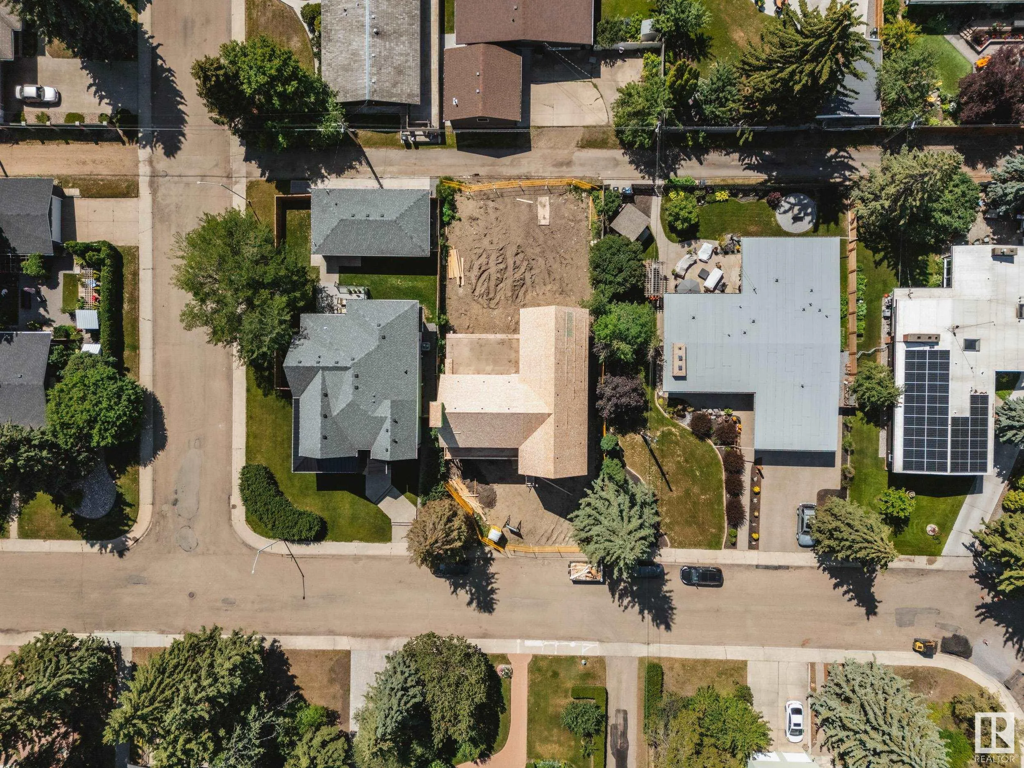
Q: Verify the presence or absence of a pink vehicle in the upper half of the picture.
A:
No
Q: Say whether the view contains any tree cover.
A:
Yes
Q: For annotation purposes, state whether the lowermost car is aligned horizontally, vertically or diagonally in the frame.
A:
vertically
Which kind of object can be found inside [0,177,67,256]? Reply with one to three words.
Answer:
building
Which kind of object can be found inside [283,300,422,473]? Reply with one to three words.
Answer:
house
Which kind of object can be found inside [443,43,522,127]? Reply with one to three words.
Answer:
building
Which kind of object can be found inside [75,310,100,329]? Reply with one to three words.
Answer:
shed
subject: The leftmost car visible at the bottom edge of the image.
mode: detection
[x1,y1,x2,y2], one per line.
[784,699,807,744]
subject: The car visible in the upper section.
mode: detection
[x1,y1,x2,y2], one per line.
[14,83,60,105]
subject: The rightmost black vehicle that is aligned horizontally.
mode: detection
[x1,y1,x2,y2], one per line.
[678,565,725,588]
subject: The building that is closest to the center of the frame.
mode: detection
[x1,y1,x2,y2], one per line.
[430,306,589,479]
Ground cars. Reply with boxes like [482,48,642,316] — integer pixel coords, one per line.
[678,565,725,588]
[784,699,807,744]
[622,560,665,582]
[429,560,472,581]
[796,502,819,546]
[14,83,60,105]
